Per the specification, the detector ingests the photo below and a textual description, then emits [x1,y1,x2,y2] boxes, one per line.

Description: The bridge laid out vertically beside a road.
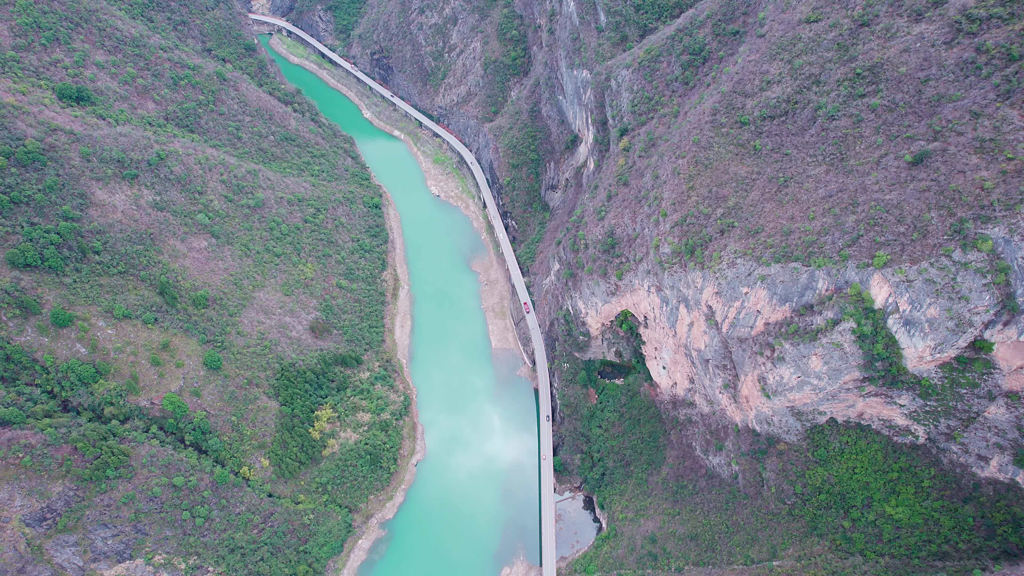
[479,184,557,576]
